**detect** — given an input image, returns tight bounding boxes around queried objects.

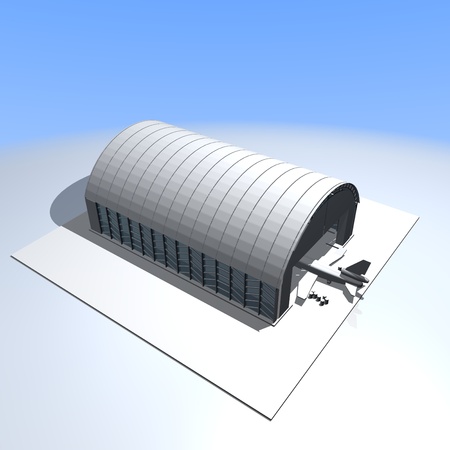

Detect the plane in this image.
[300,247,371,304]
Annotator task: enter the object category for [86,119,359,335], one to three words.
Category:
hangar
